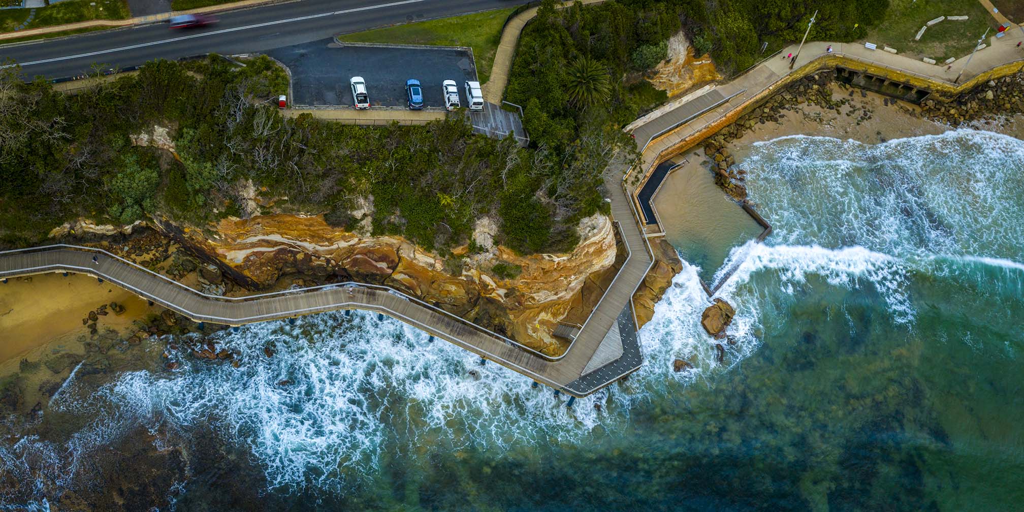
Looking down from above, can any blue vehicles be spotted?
Yes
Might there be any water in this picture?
Yes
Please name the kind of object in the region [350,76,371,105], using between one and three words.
vehicle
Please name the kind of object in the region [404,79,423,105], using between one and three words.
car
